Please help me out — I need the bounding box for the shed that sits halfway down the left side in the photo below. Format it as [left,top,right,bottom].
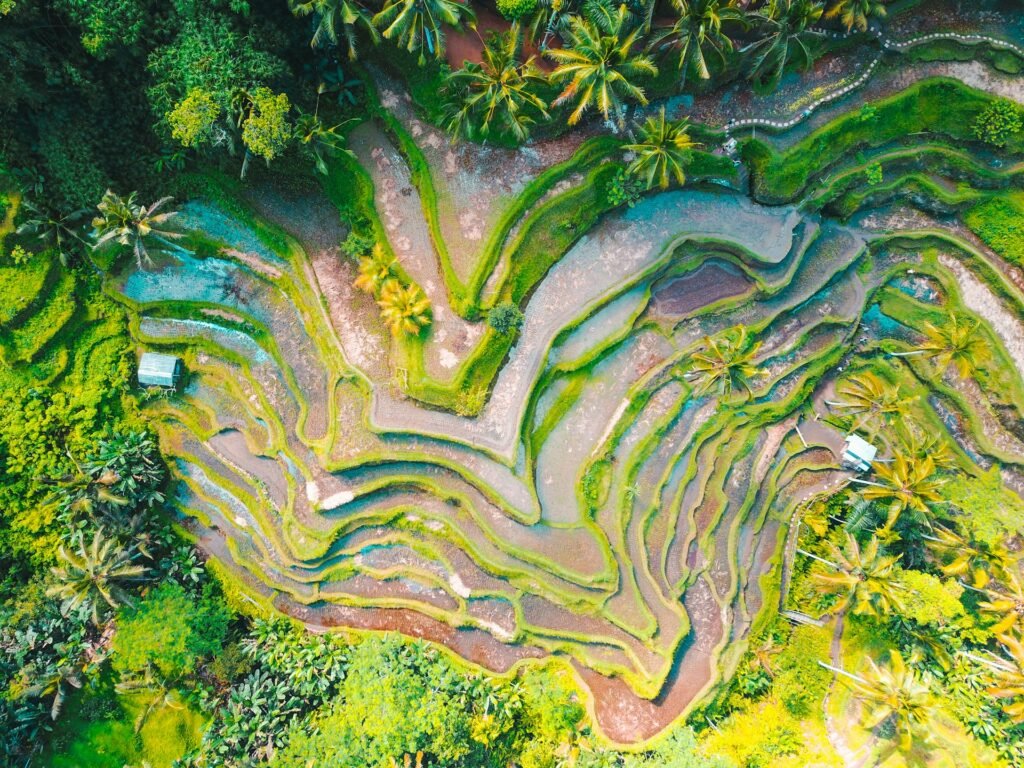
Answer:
[131,351,183,390]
